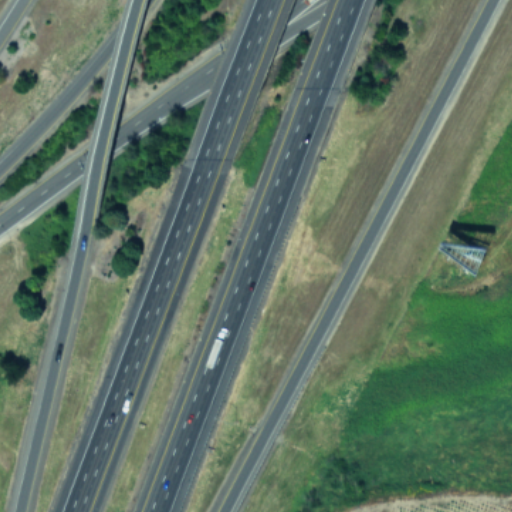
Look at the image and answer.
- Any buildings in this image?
No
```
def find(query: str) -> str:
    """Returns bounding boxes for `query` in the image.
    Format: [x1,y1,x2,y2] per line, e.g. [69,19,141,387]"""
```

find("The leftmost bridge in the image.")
[69,0,148,250]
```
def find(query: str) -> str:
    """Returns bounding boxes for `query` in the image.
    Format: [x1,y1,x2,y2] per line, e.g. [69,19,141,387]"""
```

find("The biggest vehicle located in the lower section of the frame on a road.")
[208,326,230,368]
